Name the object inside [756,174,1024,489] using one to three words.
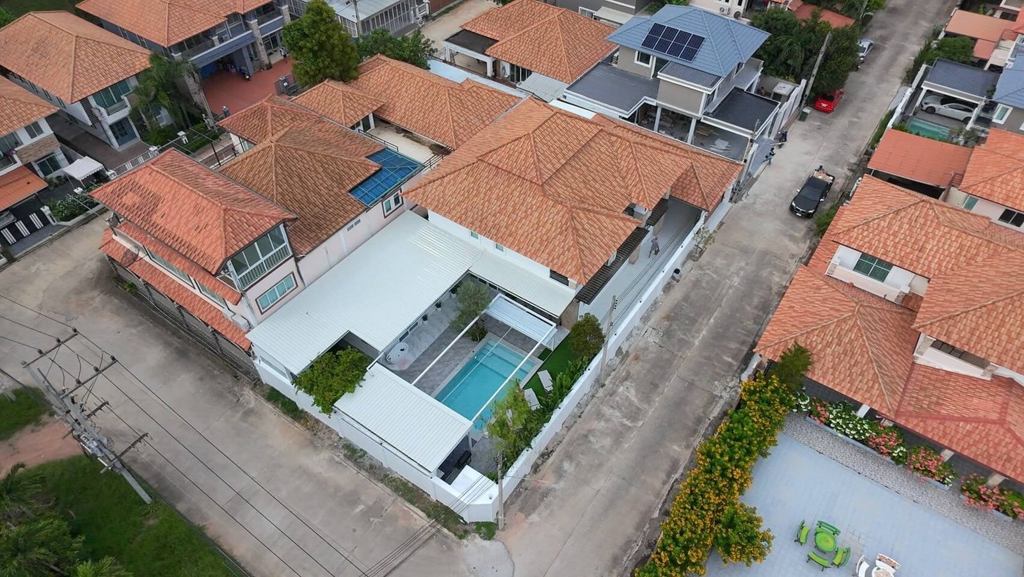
house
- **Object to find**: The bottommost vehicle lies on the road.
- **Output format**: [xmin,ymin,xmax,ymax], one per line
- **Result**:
[790,166,840,217]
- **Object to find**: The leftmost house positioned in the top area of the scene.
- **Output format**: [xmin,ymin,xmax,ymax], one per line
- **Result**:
[0,76,69,213]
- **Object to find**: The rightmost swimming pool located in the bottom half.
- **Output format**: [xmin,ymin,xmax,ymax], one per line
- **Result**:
[430,330,545,444]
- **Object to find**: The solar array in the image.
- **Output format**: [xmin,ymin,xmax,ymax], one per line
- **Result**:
[639,14,704,57]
